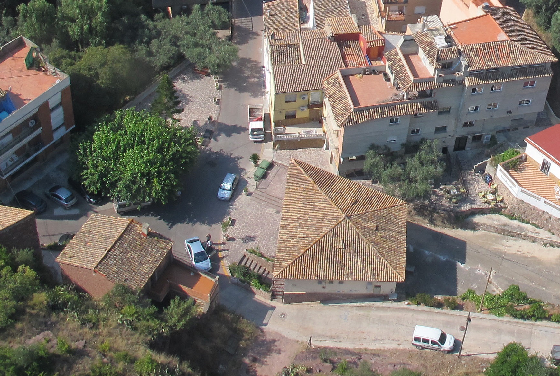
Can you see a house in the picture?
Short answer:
Yes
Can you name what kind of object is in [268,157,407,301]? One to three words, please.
building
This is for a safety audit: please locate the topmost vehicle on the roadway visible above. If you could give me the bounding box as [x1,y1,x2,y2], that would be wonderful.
[248,98,265,137]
